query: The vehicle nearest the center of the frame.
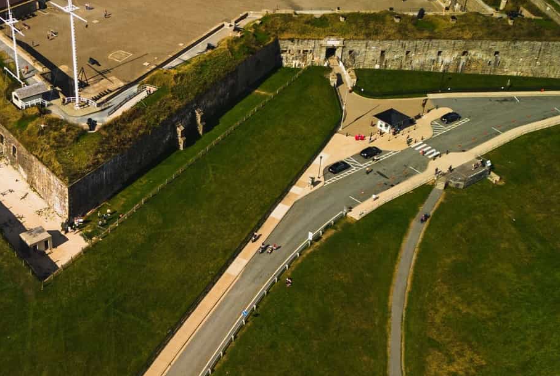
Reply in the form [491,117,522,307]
[327,159,348,174]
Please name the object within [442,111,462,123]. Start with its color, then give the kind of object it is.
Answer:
black vehicle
